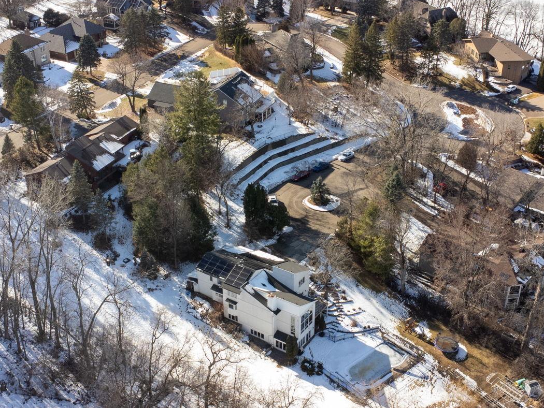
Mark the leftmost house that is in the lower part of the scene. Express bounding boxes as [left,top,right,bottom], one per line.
[189,242,336,350]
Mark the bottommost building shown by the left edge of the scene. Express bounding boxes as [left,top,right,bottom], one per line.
[23,115,148,195]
